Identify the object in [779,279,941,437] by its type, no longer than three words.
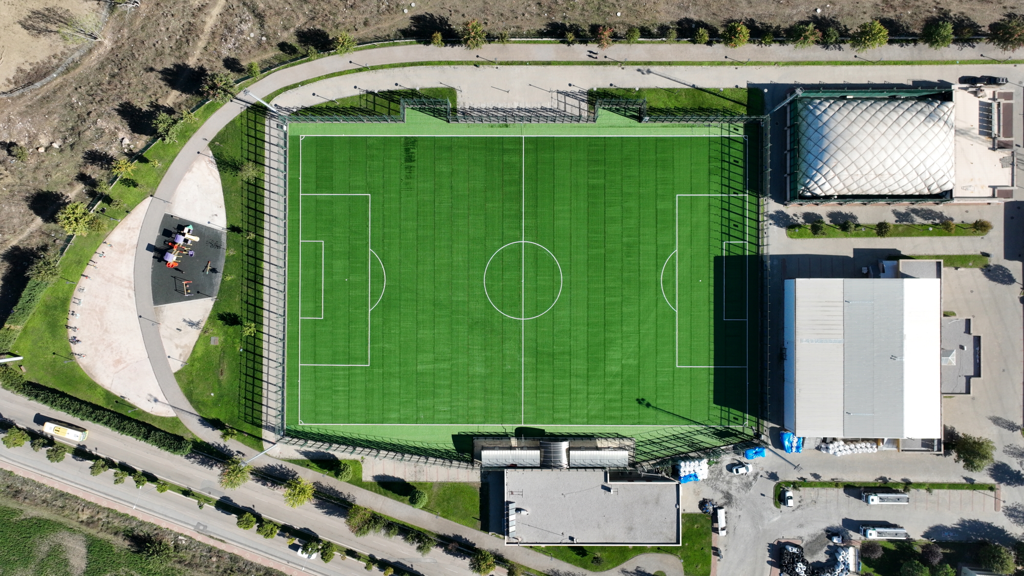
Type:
building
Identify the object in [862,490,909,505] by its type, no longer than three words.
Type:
vehicle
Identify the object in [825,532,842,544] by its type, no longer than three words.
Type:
vehicle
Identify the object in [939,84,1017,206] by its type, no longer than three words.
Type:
building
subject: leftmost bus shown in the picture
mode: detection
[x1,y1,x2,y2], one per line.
[43,418,96,442]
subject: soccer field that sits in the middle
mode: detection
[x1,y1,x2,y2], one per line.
[286,121,759,463]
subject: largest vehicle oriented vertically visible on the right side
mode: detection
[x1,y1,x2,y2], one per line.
[715,507,728,535]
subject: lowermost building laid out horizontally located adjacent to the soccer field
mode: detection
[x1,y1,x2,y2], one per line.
[504,467,682,546]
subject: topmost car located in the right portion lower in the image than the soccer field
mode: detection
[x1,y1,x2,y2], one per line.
[731,462,752,477]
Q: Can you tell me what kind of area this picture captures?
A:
sports ground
